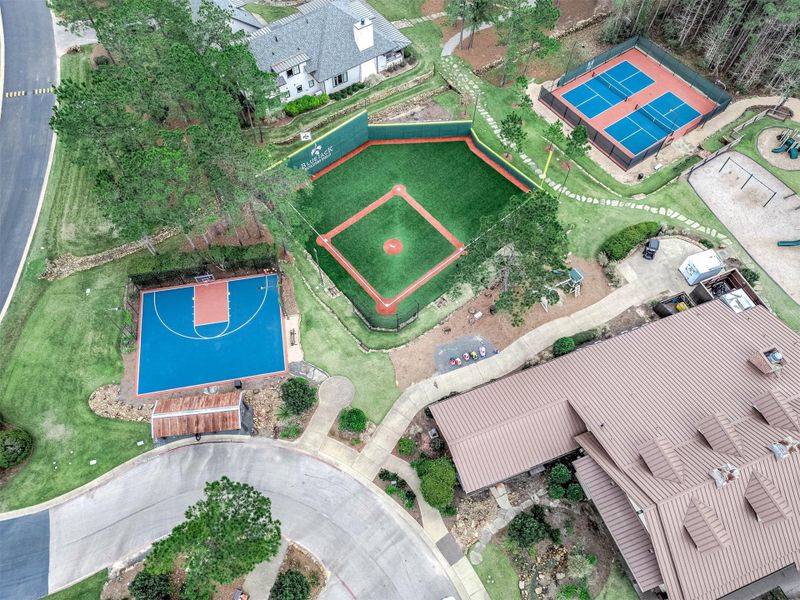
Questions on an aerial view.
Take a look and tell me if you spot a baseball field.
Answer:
Yes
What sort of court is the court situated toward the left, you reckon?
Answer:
basketball court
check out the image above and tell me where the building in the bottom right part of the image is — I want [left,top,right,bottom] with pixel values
[428,299,800,600]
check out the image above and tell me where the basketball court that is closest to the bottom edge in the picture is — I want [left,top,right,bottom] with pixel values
[134,270,290,399]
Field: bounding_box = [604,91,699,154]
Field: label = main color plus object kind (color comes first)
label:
blue sports court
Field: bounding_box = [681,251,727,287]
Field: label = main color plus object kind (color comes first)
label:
white trailer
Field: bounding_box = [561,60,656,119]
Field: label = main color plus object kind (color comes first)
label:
blue sports court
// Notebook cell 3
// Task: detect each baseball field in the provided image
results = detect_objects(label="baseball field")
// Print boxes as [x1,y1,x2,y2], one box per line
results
[270,139,555,328]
